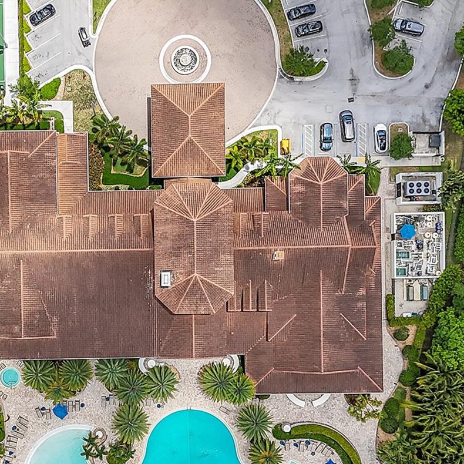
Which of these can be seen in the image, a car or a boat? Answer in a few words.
car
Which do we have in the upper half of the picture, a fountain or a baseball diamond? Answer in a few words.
fountain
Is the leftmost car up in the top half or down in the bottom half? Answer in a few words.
top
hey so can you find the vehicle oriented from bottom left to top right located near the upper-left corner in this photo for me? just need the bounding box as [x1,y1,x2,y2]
[27,4,55,26]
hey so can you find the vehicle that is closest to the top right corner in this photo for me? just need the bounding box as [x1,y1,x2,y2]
[395,16,428,35]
